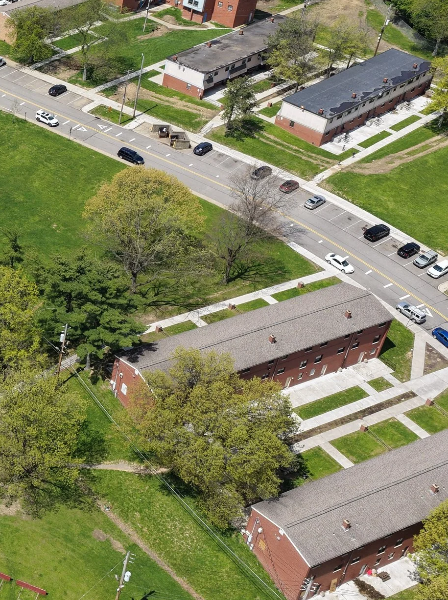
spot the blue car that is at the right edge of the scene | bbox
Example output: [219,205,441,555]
[428,330,448,348]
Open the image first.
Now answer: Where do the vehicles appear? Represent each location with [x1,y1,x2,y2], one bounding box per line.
[192,141,214,155]
[0,56,7,66]
[393,303,430,324]
[118,146,143,165]
[412,248,441,268]
[302,196,327,210]
[425,261,448,278]
[278,180,302,194]
[394,242,423,259]
[36,110,60,126]
[323,254,356,274]
[363,224,391,241]
[48,85,68,97]
[428,330,448,348]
